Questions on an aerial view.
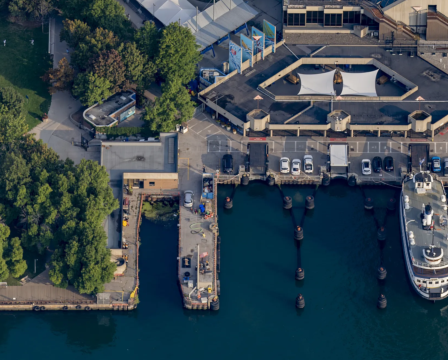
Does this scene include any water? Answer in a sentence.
Yes, water can be seen from above here.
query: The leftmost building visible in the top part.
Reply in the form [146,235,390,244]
[83,89,135,138]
